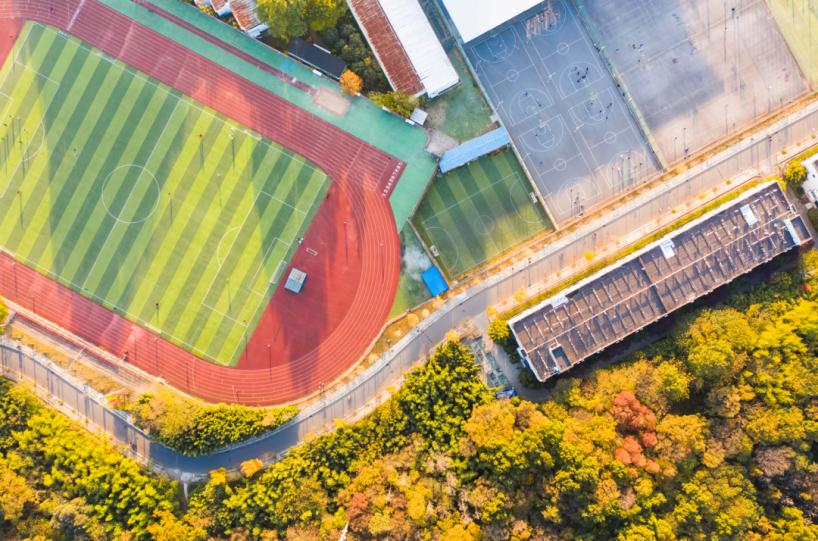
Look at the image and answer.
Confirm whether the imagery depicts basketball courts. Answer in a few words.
Yes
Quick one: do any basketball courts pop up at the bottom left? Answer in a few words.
No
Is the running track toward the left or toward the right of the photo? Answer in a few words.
left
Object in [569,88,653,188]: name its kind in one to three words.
basketball court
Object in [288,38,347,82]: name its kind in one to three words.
building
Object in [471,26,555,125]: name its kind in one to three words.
basketball court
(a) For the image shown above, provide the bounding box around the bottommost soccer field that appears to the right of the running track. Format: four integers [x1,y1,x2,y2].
[411,141,556,288]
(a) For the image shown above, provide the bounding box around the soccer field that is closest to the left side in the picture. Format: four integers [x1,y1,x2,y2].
[0,20,332,368]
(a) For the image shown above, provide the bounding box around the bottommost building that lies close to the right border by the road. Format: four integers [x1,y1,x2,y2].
[506,184,813,382]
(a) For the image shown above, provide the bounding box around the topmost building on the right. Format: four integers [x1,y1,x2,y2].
[439,0,551,46]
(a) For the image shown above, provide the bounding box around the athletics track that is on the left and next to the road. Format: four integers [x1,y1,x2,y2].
[0,0,406,408]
